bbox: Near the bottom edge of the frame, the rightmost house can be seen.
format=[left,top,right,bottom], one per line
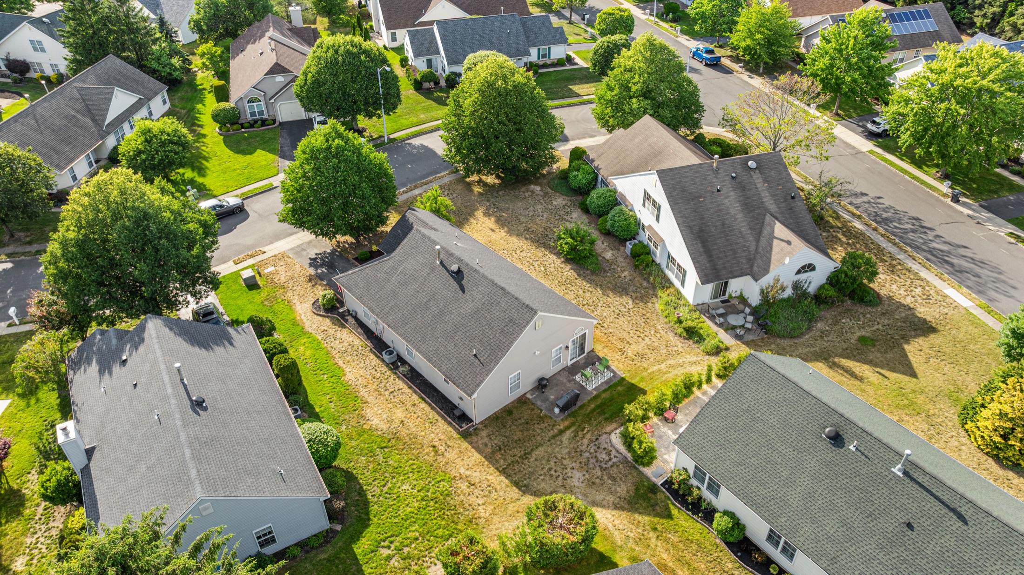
[669,352,1024,575]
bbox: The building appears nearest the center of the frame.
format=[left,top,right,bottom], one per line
[332,210,601,426]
